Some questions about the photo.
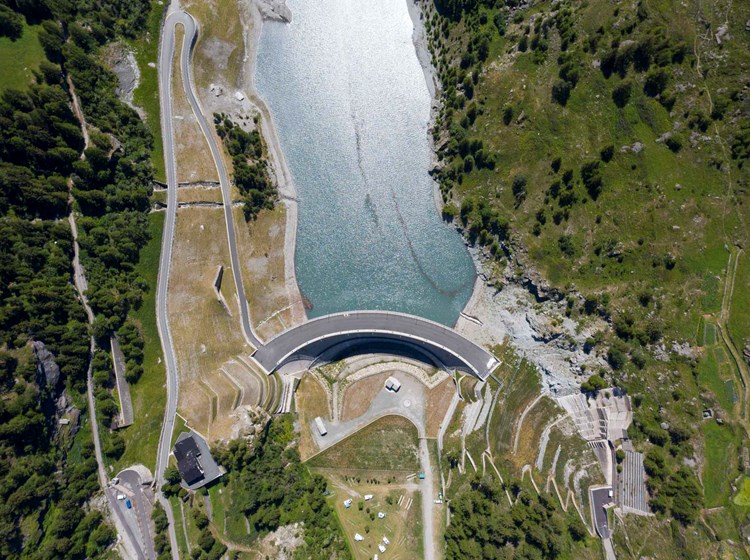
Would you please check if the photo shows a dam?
Yes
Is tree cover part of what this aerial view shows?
Yes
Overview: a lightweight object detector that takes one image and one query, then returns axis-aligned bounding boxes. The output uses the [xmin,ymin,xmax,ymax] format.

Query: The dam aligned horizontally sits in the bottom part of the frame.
[253,309,502,389]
